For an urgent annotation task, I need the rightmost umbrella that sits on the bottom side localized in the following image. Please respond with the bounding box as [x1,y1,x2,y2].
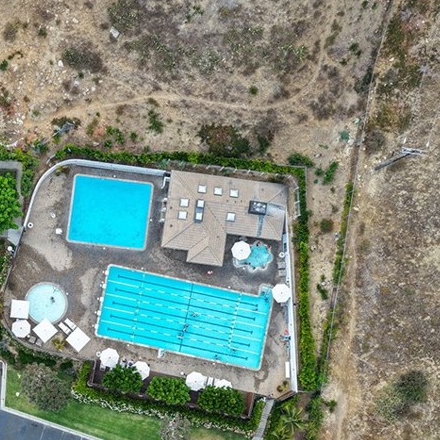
[271,284,290,302]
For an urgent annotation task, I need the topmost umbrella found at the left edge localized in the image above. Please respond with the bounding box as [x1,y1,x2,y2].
[11,300,29,318]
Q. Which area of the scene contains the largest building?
center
